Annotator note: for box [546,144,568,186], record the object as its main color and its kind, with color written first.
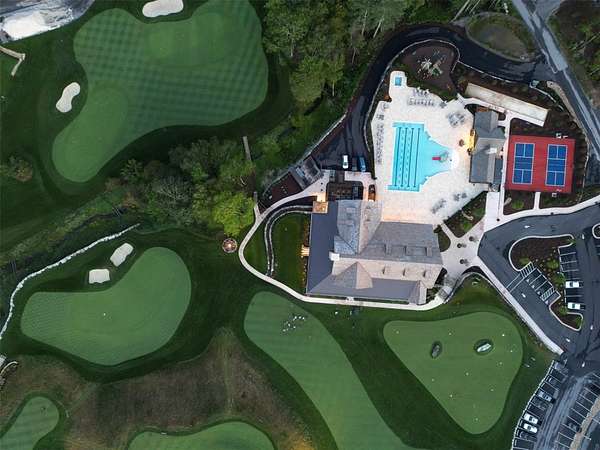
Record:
blue sports court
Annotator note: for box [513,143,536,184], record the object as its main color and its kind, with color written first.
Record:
blue sports court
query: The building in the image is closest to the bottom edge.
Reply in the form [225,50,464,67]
[306,200,440,305]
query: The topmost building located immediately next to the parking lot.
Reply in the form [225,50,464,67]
[468,110,510,186]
